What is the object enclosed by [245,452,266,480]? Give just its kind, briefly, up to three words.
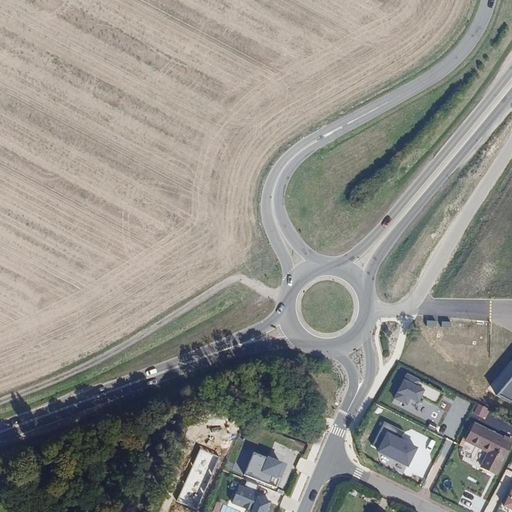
house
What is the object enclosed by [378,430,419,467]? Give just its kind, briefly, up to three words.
house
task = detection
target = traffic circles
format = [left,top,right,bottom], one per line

[281,260,374,354]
